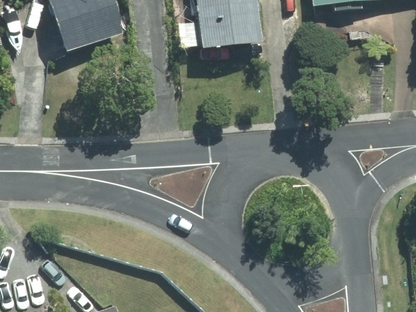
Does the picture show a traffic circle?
Yes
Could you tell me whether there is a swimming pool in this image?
No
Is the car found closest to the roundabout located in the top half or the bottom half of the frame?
bottom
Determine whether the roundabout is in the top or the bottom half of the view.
bottom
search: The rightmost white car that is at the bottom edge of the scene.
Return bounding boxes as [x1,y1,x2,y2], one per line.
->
[66,286,95,312]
